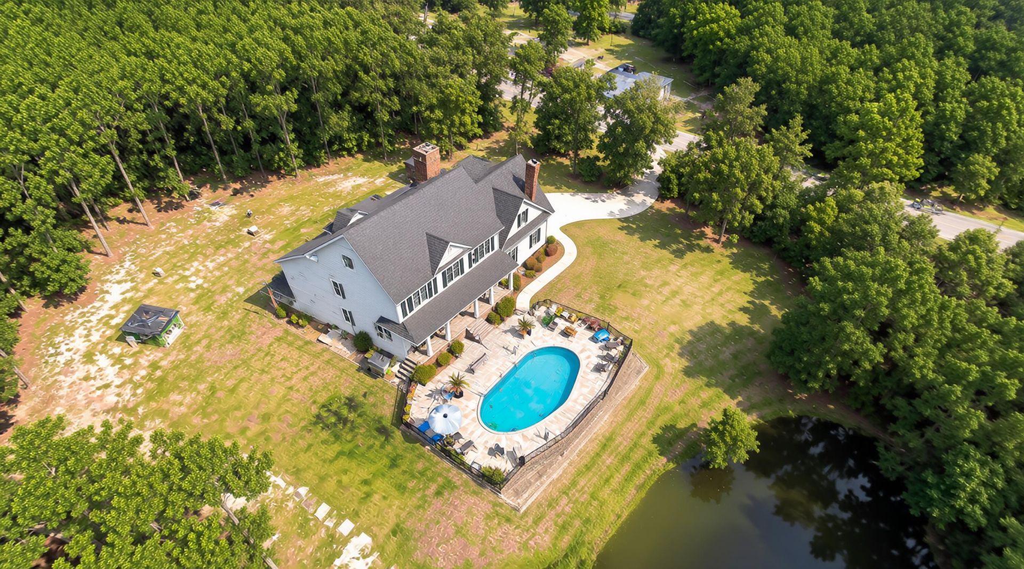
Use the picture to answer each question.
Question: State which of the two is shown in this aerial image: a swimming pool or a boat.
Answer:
swimming pool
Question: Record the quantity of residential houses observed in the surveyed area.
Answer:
two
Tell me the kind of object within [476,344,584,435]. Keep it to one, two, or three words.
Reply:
swimming pool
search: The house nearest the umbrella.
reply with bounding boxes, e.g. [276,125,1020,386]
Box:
[260,145,556,380]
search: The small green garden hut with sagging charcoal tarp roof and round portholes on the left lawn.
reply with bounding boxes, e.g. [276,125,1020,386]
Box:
[122,301,182,346]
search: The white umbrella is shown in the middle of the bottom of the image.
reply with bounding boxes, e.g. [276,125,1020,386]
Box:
[428,410,462,443]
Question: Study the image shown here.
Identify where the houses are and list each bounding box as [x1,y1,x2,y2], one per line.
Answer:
[260,145,556,380]
[600,72,672,104]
